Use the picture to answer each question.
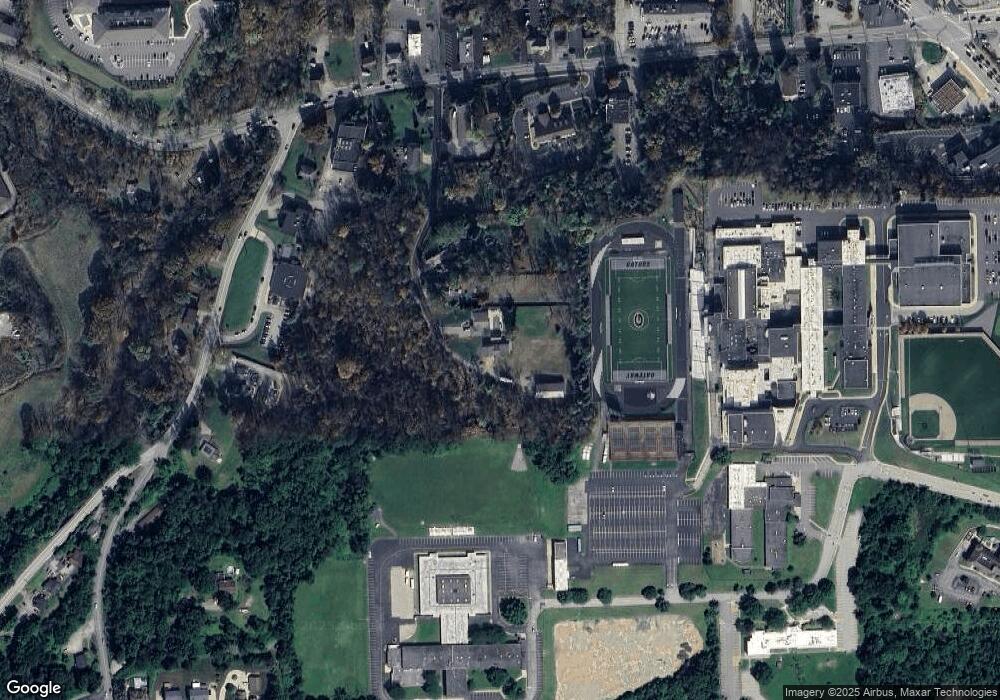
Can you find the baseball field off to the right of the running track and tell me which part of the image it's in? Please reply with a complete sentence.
The baseball field off to the right of the running track is in the right part of the image.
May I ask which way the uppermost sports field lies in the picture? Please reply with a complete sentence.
From this overhead view, the uppermost sports field appears to run from top to bottom.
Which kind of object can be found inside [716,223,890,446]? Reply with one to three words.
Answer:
building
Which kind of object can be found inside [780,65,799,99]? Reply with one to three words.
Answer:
building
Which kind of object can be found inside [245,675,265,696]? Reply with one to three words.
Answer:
house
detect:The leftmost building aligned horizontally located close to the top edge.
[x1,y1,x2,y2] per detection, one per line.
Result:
[93,3,171,40]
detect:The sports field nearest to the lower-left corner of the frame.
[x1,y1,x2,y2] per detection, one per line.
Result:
[293,556,369,700]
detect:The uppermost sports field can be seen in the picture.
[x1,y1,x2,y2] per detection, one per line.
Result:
[605,256,672,384]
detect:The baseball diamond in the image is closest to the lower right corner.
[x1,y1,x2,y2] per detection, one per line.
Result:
[898,333,1000,444]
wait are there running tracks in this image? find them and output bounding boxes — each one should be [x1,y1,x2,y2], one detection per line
[592,222,689,476]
